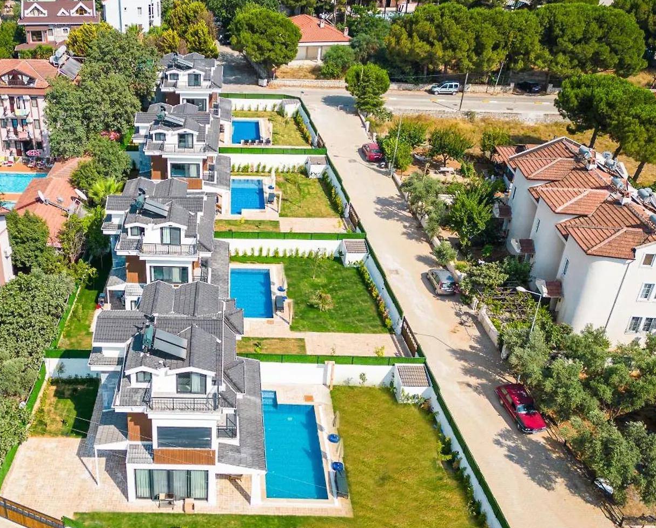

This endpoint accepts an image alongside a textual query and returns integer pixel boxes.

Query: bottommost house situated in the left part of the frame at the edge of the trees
[92,277,268,508]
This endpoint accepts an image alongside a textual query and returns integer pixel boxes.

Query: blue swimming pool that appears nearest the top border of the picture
[234,120,264,145]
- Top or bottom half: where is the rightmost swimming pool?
bottom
